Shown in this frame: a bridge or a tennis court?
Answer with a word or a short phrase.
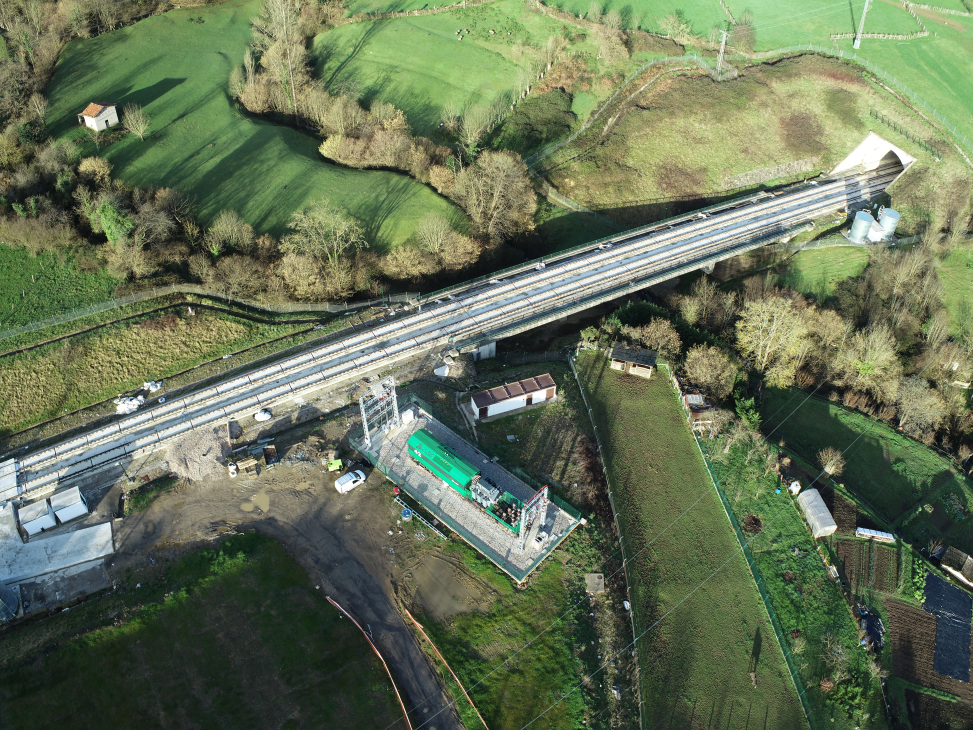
bridge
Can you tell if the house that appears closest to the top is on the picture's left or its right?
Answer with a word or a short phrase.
left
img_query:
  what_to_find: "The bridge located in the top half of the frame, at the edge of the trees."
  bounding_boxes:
[401,192,809,361]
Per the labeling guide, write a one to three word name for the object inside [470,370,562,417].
shed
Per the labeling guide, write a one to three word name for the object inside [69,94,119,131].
house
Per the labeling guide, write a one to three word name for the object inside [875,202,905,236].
storage tank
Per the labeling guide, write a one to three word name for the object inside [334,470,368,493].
vehicle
